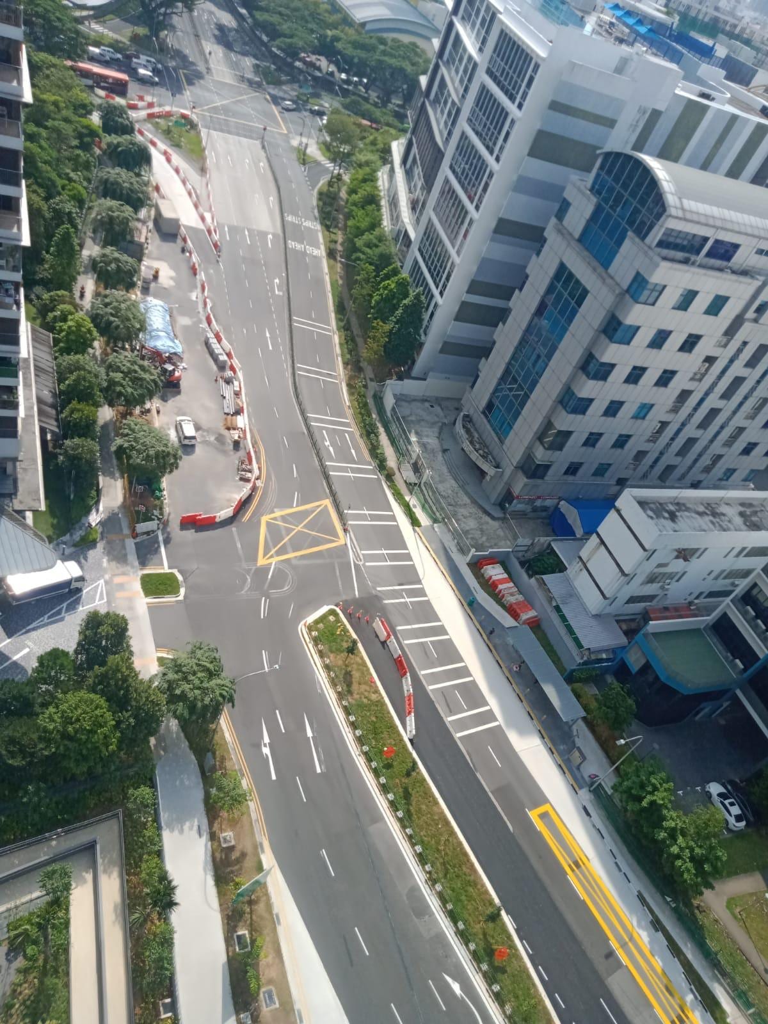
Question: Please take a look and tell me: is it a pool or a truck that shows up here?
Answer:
truck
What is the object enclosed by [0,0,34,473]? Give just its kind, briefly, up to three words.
building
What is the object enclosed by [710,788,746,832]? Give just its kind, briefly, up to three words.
car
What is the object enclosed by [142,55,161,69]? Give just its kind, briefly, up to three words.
car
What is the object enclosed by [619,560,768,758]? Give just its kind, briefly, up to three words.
building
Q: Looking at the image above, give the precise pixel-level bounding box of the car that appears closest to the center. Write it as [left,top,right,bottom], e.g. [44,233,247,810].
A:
[175,420,195,447]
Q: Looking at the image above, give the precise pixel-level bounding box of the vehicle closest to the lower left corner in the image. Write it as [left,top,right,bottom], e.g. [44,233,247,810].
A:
[6,568,86,613]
